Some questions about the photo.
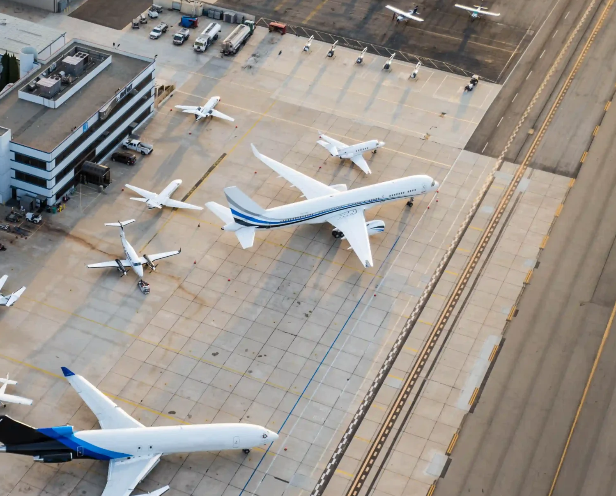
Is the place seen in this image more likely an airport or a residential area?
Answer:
airport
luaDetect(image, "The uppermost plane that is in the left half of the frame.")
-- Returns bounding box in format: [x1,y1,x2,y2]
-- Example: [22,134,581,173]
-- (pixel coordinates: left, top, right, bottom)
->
[177,101,234,124]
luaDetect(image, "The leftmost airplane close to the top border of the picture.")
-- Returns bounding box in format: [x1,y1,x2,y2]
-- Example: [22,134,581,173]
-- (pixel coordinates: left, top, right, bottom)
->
[384,6,424,26]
